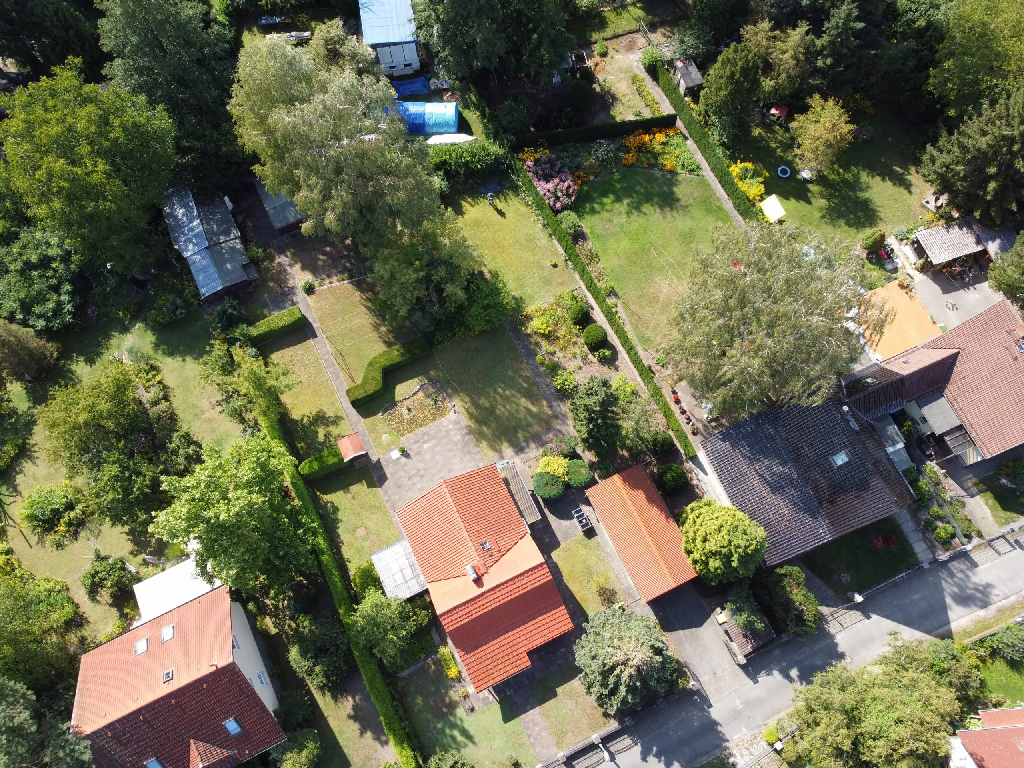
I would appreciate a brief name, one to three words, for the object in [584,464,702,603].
building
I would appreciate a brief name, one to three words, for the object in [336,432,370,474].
shed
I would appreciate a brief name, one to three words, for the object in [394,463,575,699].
house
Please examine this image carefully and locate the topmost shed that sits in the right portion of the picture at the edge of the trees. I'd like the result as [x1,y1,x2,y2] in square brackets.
[671,59,703,100]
